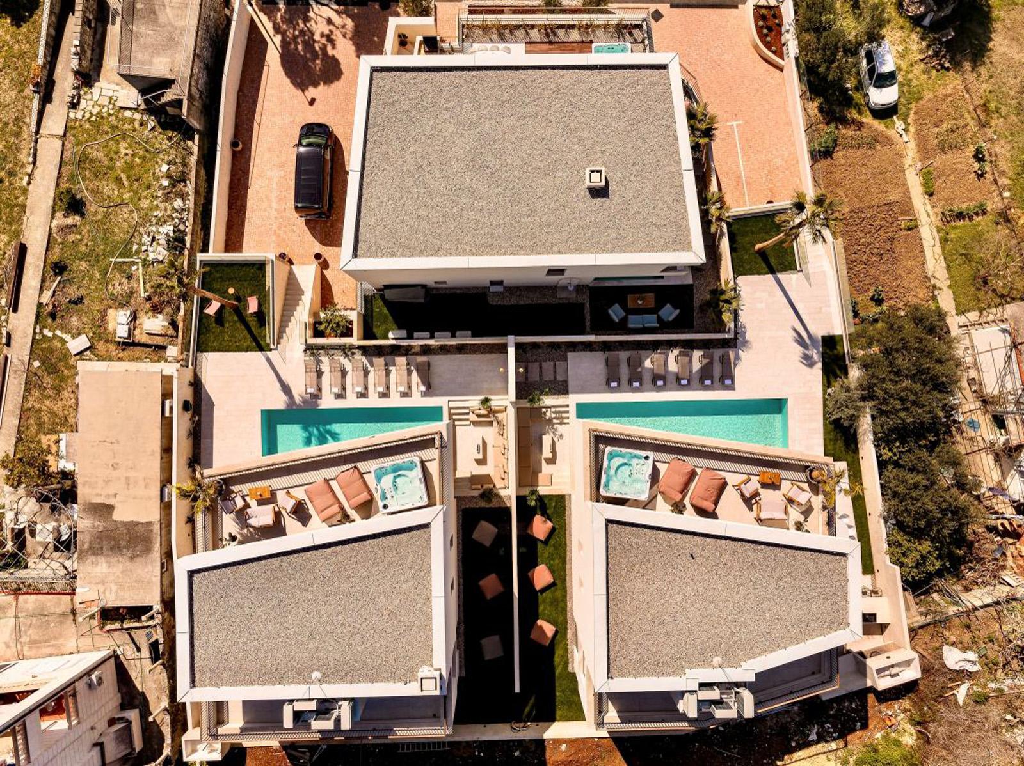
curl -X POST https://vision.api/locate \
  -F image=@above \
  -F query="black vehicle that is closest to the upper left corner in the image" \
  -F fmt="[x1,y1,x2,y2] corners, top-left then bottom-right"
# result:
[292,125,334,219]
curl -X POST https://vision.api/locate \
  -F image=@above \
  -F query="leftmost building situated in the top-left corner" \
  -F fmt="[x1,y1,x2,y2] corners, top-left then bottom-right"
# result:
[119,0,225,146]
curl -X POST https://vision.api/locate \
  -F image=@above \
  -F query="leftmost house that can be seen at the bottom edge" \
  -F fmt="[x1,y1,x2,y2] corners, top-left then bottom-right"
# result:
[0,651,127,766]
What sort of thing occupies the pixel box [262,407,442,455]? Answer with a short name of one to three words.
swimming pool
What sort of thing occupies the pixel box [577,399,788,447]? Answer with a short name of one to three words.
swimming pool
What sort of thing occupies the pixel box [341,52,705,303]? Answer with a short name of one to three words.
house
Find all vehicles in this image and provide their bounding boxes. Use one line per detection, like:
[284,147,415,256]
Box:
[292,125,334,219]
[856,42,900,118]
